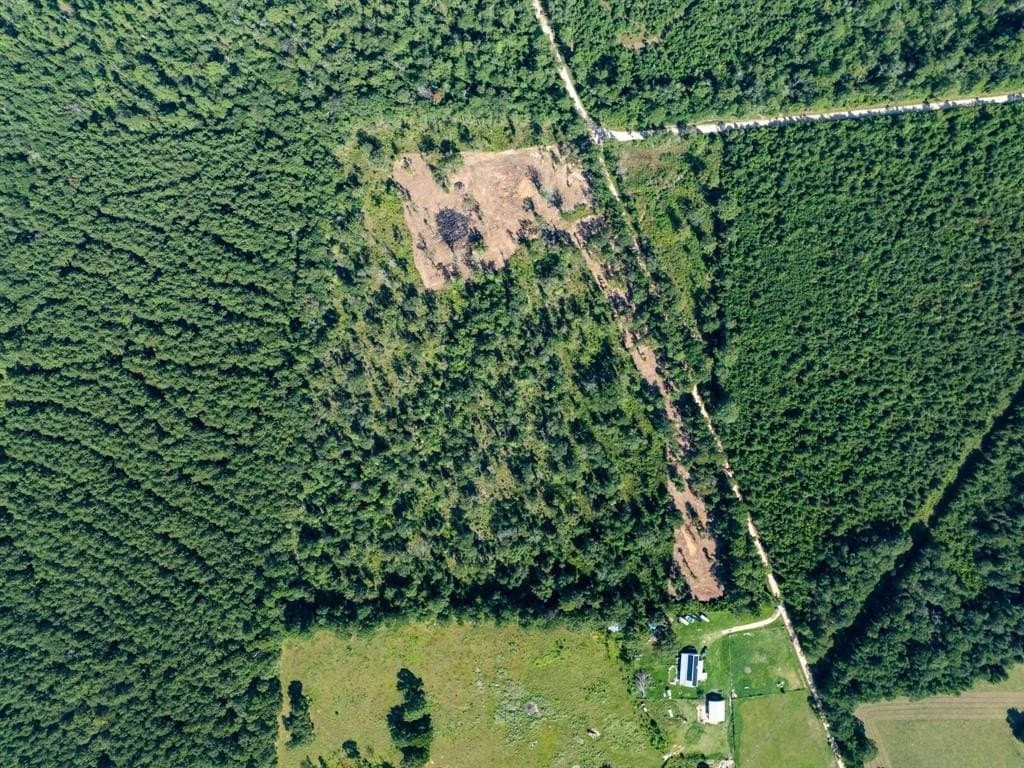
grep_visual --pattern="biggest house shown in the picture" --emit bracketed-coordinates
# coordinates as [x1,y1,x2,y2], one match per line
[679,651,698,686]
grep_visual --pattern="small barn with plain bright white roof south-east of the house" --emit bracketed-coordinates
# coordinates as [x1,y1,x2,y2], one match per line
[708,698,725,722]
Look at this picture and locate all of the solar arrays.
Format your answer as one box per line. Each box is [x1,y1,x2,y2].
[693,655,698,684]
[688,655,694,679]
